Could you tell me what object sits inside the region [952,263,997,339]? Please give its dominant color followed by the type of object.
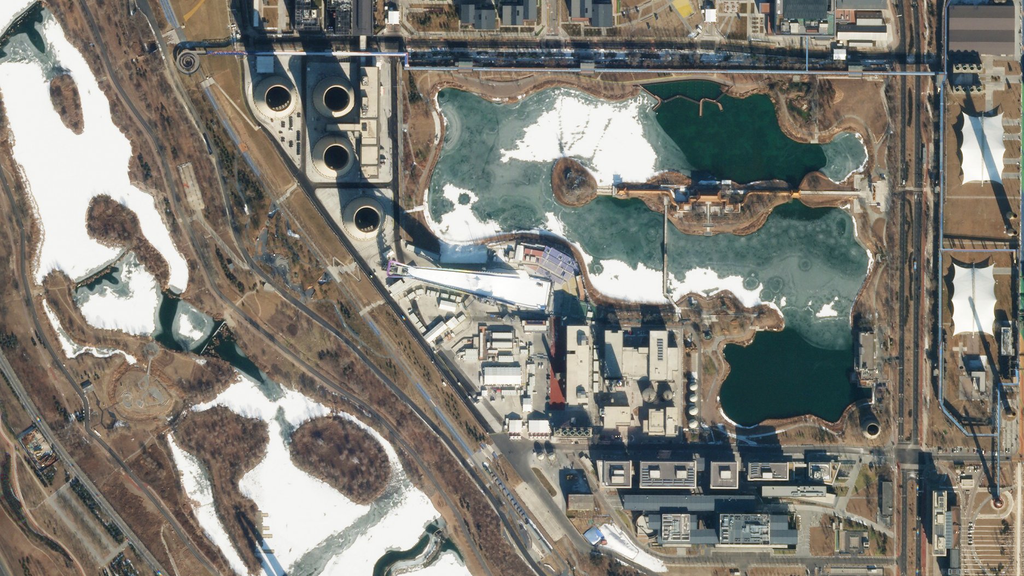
white tent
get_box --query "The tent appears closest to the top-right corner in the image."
[959,111,1006,187]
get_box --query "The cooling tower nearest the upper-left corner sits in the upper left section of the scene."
[252,75,299,121]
